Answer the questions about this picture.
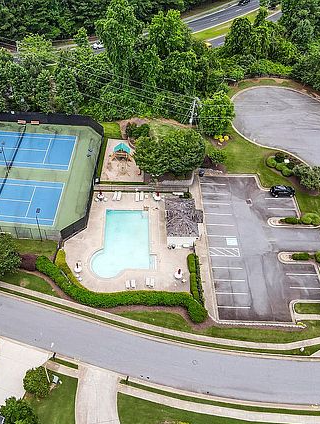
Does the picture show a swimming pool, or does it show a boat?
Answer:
swimming pool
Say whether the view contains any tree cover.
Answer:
Yes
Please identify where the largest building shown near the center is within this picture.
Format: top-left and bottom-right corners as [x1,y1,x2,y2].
[163,199,203,246]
